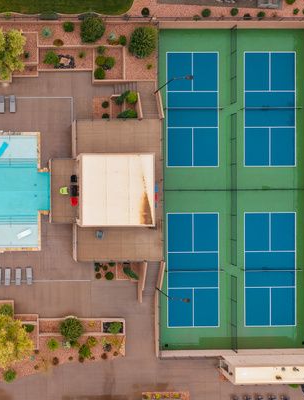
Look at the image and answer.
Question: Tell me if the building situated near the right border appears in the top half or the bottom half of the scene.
bottom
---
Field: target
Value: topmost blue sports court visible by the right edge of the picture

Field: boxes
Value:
[243,52,296,167]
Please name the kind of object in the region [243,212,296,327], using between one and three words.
sports court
